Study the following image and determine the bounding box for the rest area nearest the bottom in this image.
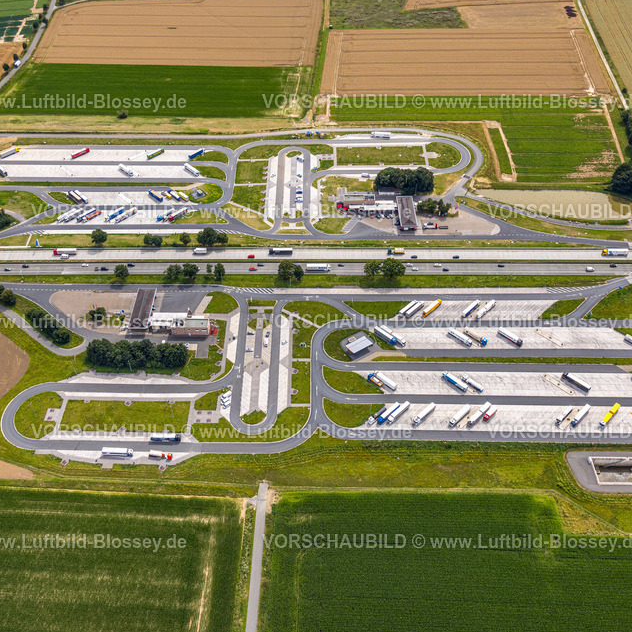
[0,275,632,492]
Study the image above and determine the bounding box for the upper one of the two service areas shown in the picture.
[0,127,632,250]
